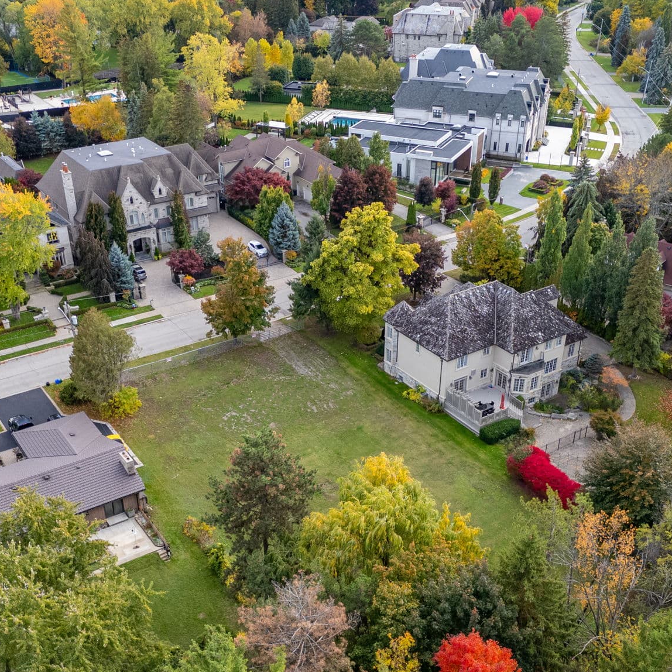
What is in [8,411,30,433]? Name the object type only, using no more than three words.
car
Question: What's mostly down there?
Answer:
trees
